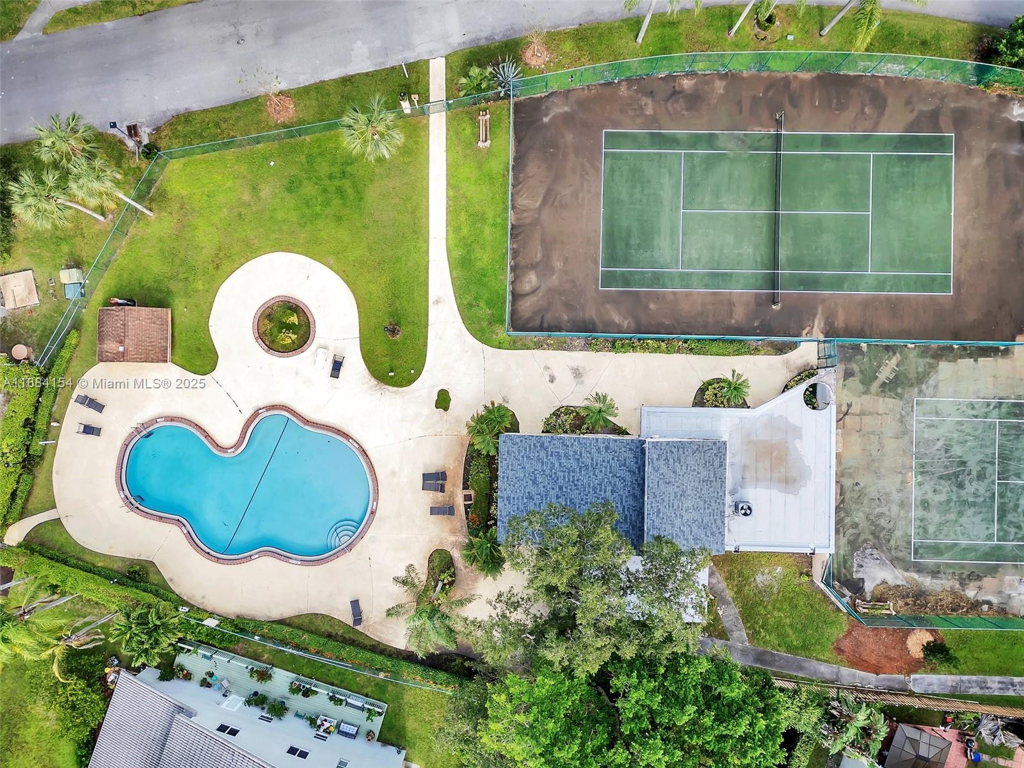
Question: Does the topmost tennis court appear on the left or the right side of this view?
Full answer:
You can find the topmost tennis court on the right side of the picture.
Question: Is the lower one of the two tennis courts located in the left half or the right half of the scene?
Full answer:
You can find the lower one of the two tennis courts on the right side of the picture.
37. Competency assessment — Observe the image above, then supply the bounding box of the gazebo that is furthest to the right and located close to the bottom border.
[867,715,951,768]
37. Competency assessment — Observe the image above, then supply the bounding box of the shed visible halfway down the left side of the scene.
[96,306,174,364]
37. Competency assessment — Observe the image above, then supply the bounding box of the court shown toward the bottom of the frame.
[820,343,1024,618]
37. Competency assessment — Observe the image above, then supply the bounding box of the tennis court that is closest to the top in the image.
[511,70,1024,346]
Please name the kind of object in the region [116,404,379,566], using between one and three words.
swimming pool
